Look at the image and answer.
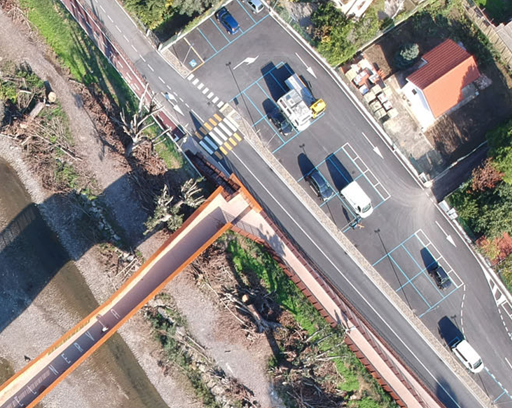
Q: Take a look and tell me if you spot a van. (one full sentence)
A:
Yes, the image includes a van.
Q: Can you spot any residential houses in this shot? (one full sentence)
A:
Yes, there's a residential house here.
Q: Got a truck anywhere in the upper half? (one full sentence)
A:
Yes, a truck is visible in the upper half.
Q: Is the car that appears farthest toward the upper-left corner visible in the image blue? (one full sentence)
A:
Yes, the car that appears farthest toward the upper-left corner appears blue.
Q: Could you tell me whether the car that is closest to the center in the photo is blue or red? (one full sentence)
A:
In this view, the car that is closest to the center is blue.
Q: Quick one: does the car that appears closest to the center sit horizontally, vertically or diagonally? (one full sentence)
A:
The car that appears closest to the center runs diagonally in the image.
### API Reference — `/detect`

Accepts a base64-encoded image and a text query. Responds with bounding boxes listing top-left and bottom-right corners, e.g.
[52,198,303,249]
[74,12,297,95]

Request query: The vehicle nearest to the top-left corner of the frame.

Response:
[214,6,240,34]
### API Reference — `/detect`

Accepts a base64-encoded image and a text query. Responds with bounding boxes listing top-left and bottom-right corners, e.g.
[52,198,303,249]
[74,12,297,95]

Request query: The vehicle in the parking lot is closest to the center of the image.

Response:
[305,171,333,201]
